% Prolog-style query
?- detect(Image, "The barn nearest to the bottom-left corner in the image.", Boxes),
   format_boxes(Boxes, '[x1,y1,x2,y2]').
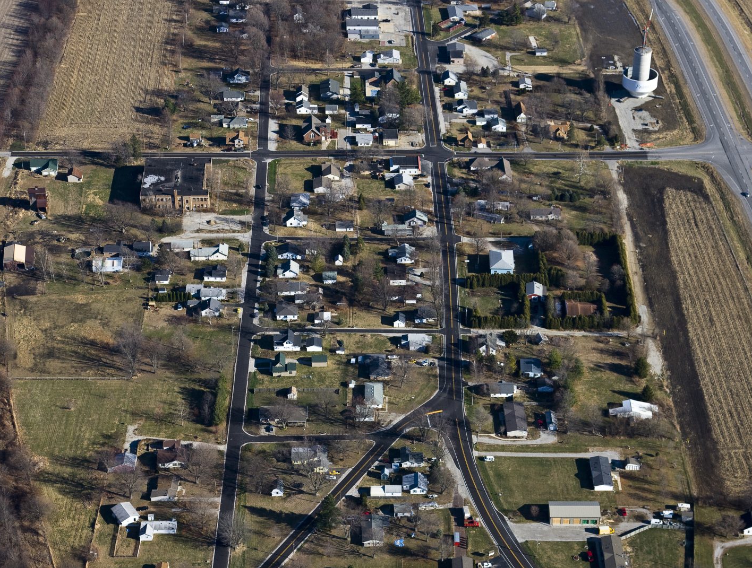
[113,502,139,527]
